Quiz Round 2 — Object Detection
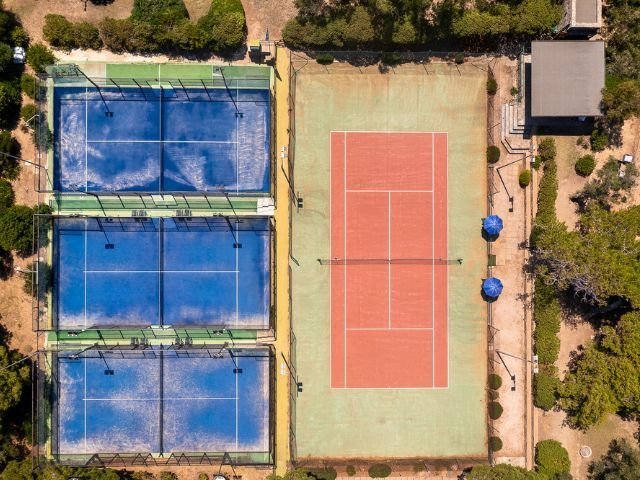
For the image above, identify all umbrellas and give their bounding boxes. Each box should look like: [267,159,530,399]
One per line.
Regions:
[482,277,502,297]
[482,214,503,234]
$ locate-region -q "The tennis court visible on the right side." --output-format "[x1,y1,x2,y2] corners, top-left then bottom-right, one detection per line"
[292,59,488,458]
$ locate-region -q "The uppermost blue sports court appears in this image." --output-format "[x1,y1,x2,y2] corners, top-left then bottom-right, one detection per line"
[51,86,271,195]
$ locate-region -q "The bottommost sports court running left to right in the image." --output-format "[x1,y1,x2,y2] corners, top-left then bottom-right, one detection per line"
[51,344,271,455]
